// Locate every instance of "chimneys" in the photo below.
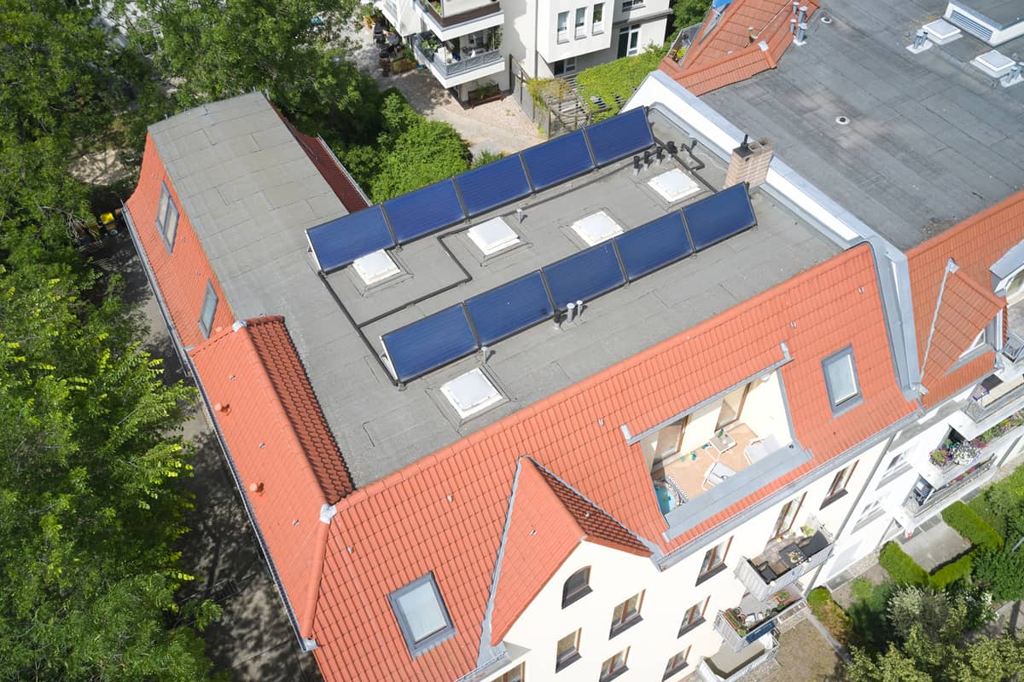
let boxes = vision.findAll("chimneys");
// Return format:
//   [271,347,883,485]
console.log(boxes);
[721,136,765,190]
